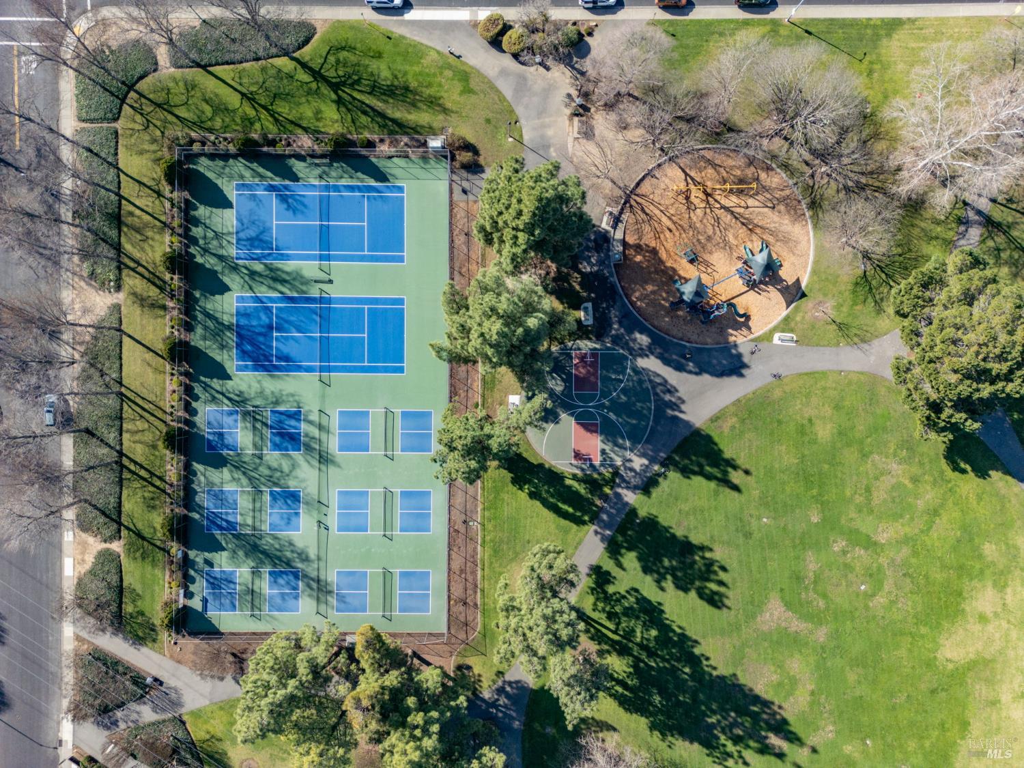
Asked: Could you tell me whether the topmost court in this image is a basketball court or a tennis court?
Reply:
tennis court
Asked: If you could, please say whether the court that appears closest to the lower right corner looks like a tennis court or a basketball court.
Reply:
basketball court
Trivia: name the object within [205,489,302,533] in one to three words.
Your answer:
sports court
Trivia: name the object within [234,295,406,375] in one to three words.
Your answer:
tennis court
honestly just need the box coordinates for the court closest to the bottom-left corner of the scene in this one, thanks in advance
[204,569,301,613]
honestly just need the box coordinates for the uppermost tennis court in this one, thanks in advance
[234,182,406,264]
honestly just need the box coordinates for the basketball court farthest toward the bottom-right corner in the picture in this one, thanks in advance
[524,340,655,471]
